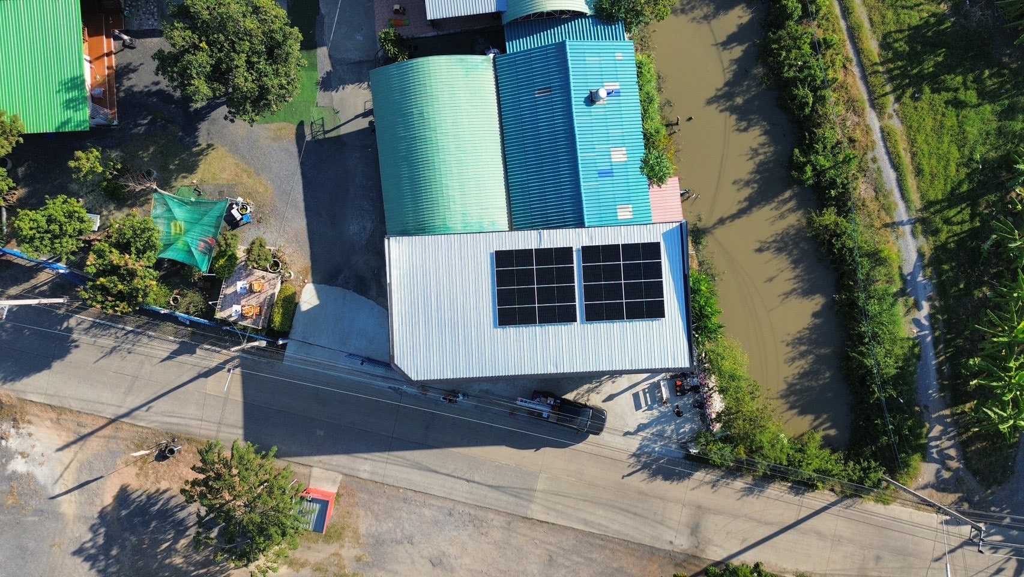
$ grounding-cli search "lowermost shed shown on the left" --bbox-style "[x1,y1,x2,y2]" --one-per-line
[294,487,337,532]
